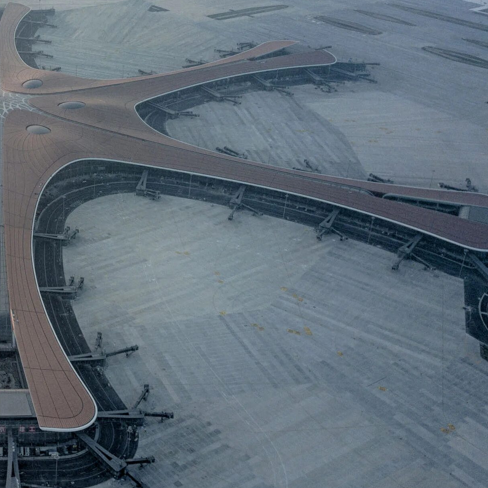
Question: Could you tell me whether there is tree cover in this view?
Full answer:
No, the picture contains no tree cover.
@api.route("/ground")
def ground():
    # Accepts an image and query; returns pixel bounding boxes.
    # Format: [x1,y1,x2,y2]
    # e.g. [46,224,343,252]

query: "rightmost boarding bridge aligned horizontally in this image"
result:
[436,179,481,192]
